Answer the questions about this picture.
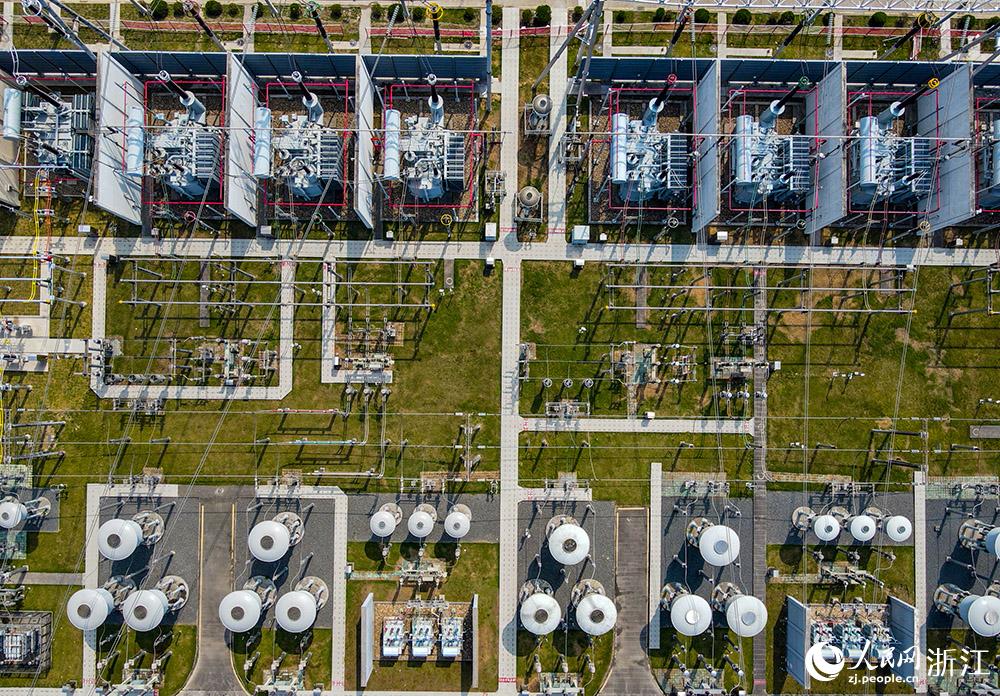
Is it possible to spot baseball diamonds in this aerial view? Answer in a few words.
No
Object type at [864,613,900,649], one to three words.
storage tank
